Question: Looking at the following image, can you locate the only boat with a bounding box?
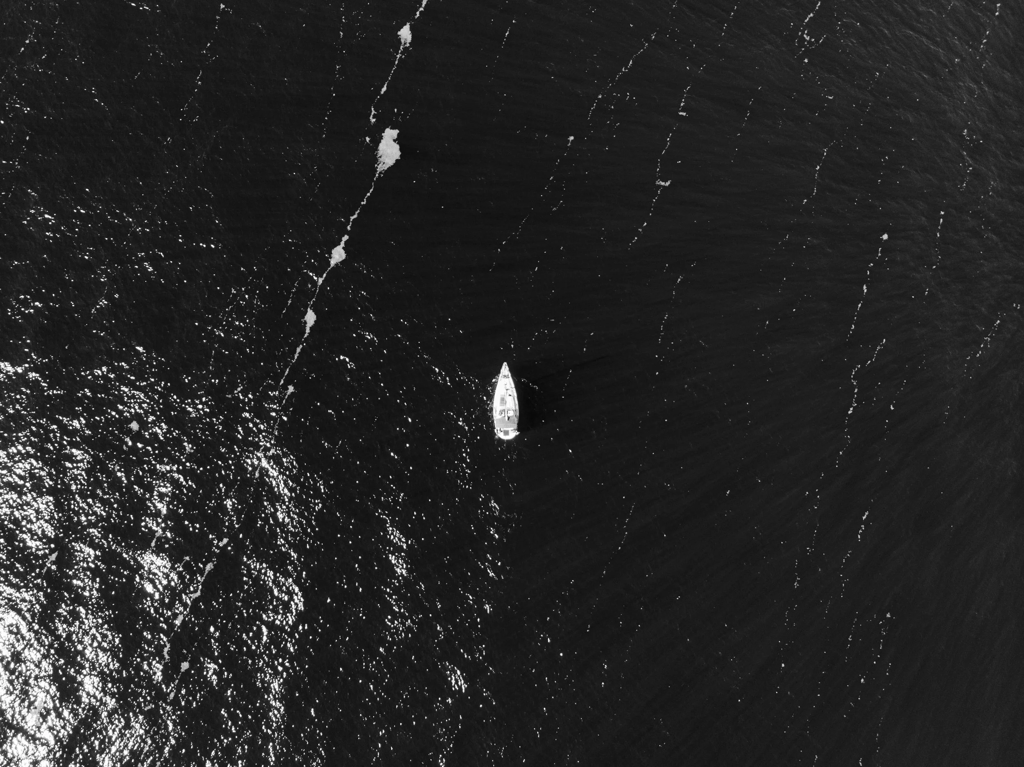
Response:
[493,362,519,440]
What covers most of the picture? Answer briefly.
water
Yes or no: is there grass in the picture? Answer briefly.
No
